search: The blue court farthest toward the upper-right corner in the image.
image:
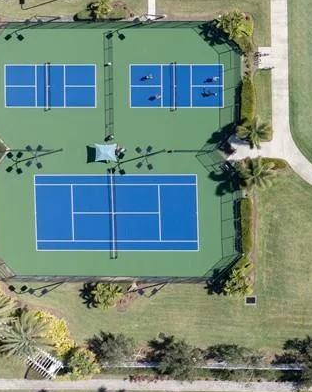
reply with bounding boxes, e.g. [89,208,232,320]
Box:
[129,62,223,111]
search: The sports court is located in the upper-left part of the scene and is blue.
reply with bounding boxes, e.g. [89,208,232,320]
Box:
[4,62,96,111]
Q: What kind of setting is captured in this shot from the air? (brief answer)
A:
sports ground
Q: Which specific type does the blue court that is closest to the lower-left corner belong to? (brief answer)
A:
tennis court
